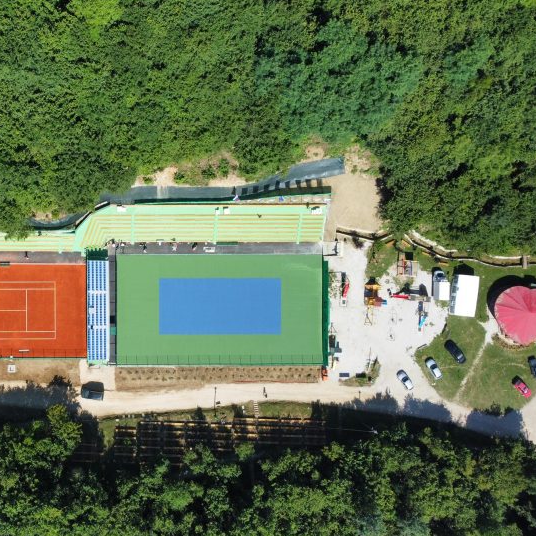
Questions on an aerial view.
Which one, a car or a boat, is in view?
car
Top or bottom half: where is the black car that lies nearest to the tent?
bottom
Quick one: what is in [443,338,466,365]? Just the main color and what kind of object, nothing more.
black car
